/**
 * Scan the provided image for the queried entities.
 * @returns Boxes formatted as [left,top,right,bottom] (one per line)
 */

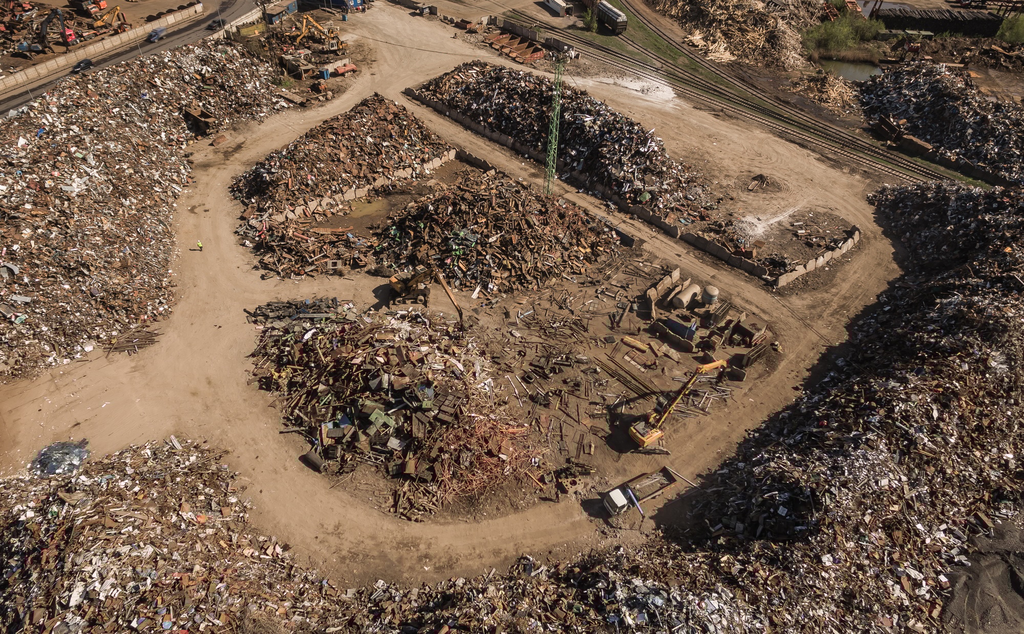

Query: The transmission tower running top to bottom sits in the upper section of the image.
[258,0,280,75]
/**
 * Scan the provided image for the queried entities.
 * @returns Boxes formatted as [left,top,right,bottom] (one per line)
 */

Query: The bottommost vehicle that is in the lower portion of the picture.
[603,456,691,519]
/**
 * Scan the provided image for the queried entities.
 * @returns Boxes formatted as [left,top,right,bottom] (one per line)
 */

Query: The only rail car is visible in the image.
[583,0,624,30]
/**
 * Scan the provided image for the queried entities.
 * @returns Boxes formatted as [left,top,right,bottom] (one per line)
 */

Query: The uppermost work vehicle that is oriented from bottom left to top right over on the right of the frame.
[627,361,729,459]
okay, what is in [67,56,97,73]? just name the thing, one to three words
car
